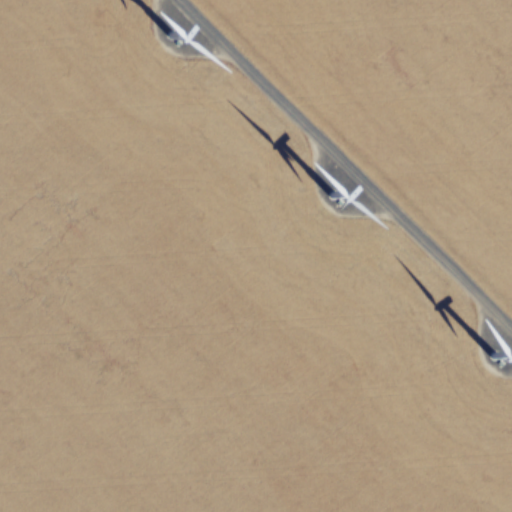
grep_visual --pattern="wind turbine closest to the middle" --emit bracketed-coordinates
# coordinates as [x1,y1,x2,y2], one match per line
[316,161,390,230]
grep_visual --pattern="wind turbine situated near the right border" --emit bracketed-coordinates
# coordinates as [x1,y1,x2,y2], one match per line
[488,320,512,364]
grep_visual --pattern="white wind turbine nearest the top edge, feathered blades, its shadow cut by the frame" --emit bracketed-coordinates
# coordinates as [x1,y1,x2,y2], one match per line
[160,8,232,72]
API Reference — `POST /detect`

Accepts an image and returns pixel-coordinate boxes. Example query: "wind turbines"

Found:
[160,8,232,72]
[316,161,390,230]
[488,320,512,364]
